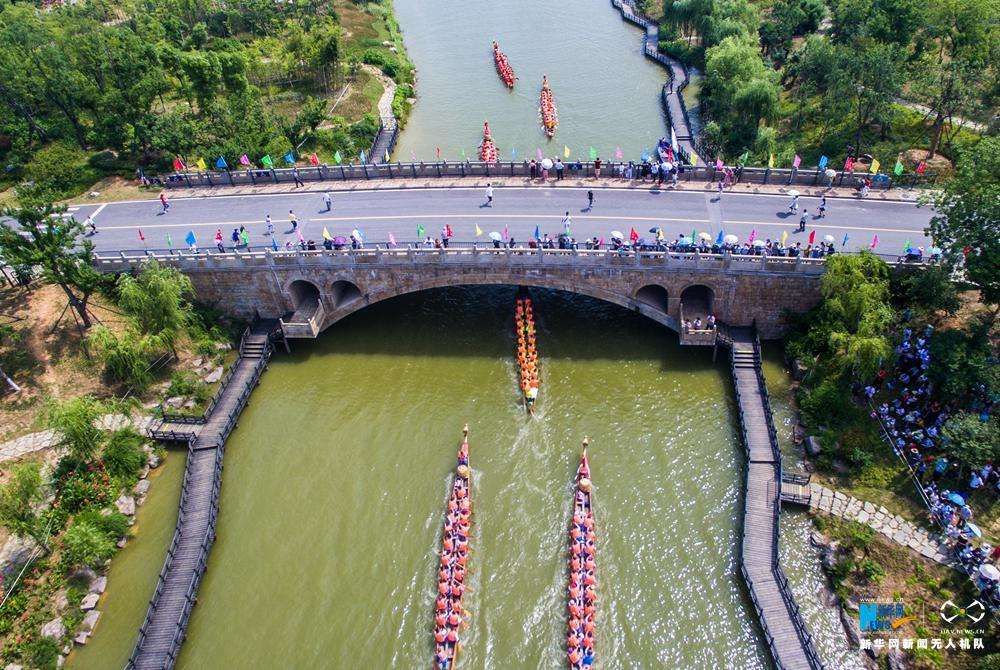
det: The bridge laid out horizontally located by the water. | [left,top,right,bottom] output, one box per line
[40,164,997,338]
